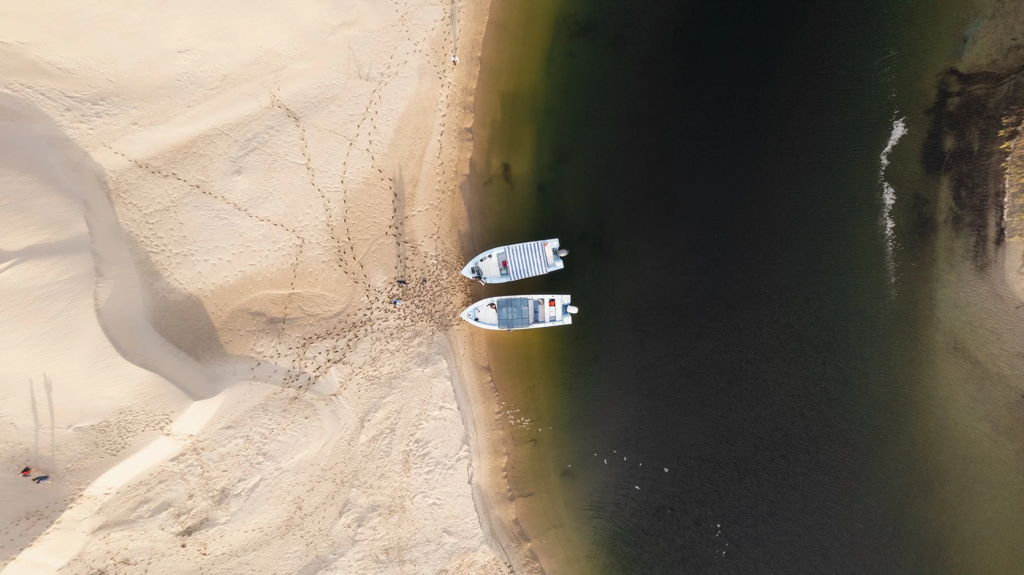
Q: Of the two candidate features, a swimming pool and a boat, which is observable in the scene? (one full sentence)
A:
It is a boat that can be seen here.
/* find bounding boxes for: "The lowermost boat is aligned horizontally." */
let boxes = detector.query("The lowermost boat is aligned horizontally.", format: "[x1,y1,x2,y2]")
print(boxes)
[460,294,579,330]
